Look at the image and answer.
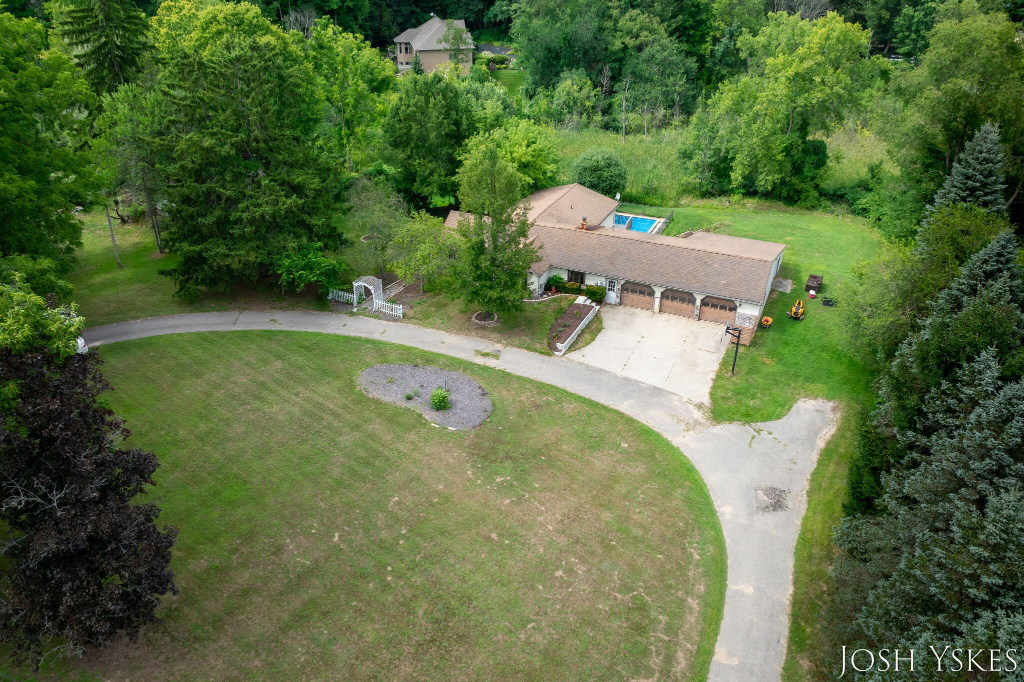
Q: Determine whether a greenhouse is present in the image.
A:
No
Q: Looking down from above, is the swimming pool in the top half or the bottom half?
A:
top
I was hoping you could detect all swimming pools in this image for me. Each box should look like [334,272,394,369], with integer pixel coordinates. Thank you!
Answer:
[616,210,662,234]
